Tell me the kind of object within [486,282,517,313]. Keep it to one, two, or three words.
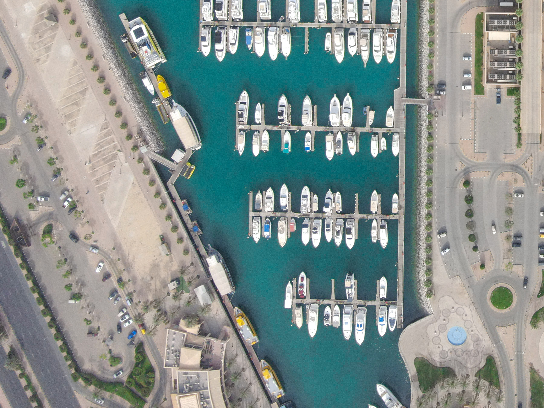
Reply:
roundabout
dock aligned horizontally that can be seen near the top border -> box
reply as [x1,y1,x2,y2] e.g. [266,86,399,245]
[199,0,400,55]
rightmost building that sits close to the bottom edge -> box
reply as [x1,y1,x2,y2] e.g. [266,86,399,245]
[164,320,232,408]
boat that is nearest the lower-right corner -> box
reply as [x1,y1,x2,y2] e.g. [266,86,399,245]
[377,384,403,408]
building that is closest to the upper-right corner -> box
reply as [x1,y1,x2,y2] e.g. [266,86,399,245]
[484,12,520,86]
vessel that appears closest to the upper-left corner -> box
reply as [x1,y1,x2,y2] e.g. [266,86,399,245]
[120,34,138,60]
